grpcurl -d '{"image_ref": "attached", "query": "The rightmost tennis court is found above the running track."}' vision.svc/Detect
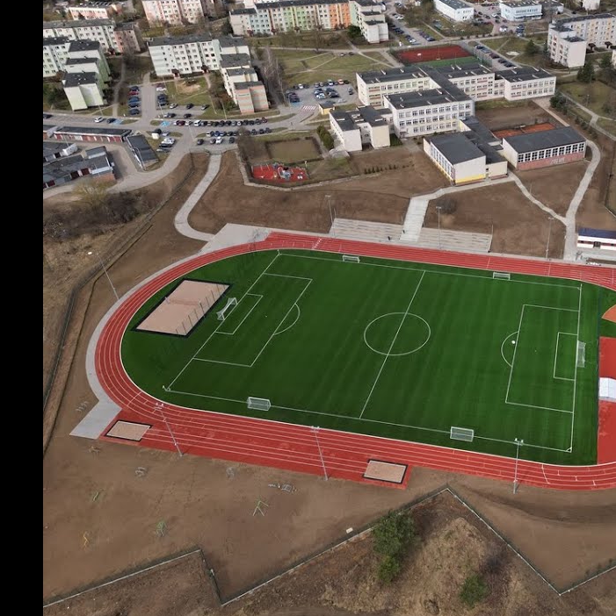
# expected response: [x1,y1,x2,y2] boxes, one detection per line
[494,122,557,138]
